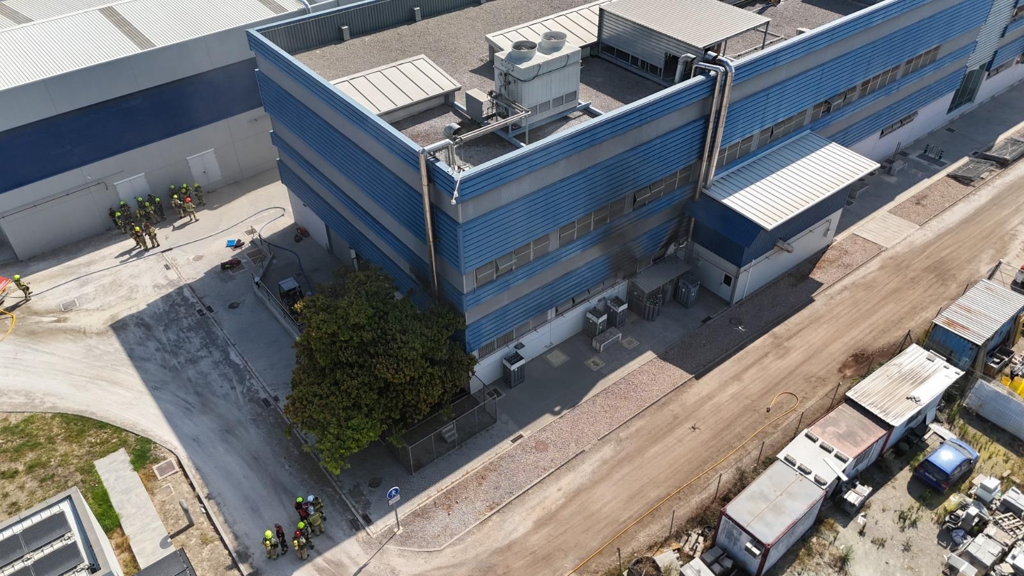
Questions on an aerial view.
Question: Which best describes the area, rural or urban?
urban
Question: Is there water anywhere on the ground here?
No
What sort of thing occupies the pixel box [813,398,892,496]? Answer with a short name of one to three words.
building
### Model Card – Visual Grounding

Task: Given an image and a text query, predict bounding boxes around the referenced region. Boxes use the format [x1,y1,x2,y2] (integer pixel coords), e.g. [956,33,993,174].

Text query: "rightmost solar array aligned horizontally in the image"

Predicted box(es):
[134,549,195,576]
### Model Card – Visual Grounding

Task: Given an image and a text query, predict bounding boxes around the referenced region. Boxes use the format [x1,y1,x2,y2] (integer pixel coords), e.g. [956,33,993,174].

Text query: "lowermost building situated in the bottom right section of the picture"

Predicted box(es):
[714,460,827,576]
